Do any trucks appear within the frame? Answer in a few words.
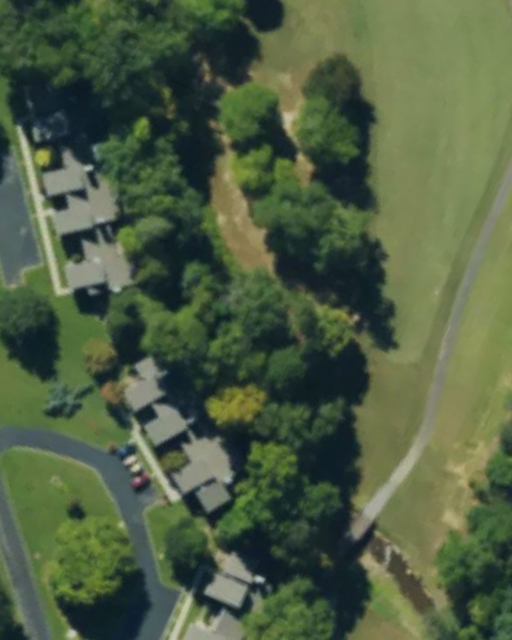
No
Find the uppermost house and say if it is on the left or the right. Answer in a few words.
left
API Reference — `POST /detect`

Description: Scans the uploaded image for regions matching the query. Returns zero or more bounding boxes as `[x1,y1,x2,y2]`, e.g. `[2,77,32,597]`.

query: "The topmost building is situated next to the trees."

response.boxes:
[31,93,101,141]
